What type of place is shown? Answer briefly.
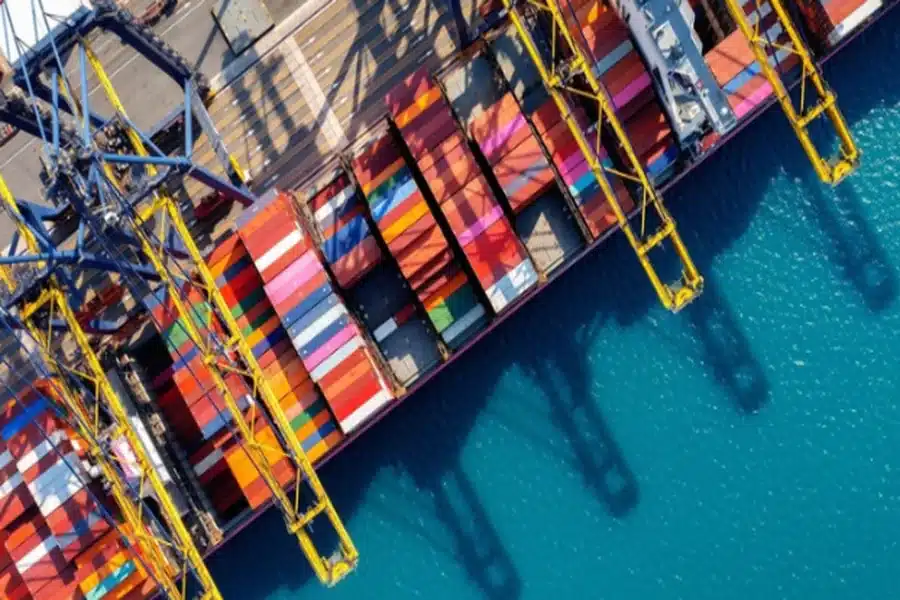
port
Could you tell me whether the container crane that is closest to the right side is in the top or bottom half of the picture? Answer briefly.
top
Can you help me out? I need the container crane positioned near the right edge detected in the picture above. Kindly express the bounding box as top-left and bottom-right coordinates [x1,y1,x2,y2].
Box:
[733,0,873,192]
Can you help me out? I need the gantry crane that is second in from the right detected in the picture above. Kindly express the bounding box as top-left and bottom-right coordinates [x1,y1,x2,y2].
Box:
[433,0,712,317]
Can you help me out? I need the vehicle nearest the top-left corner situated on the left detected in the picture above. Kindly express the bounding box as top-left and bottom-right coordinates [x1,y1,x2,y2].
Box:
[134,0,169,25]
